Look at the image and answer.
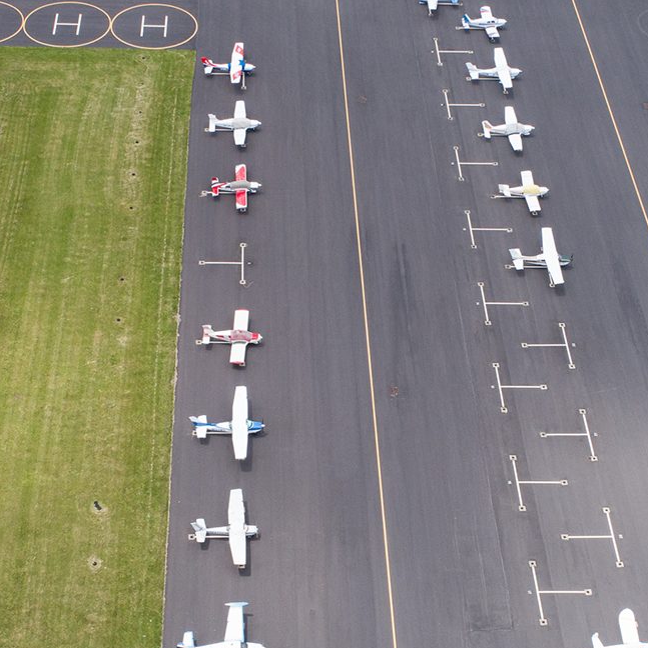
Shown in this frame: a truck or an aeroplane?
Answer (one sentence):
Looking from above, you can make out an aeroplane.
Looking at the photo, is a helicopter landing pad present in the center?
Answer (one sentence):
No, there's no helicopter landing pad to be seen in the center.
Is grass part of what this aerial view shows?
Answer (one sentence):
Yes, there's grass in this view.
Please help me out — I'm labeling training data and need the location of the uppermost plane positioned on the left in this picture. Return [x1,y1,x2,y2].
[201,42,256,82]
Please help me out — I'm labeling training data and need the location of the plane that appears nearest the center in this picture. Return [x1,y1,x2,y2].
[202,310,262,365]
